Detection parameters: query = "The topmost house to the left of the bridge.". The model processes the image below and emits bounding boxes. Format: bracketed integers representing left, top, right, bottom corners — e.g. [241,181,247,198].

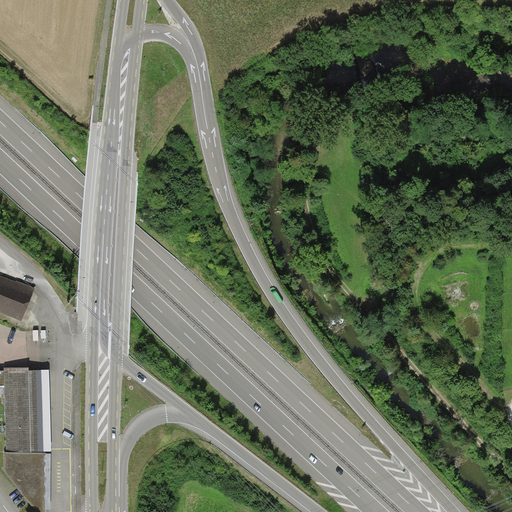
[0,276,34,320]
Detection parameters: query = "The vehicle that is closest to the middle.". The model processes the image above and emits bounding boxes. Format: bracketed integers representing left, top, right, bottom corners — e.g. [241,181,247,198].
[268,286,284,304]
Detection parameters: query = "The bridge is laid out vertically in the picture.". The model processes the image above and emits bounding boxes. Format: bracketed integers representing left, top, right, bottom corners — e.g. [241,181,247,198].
[74,138,138,344]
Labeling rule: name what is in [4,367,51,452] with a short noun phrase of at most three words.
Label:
building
